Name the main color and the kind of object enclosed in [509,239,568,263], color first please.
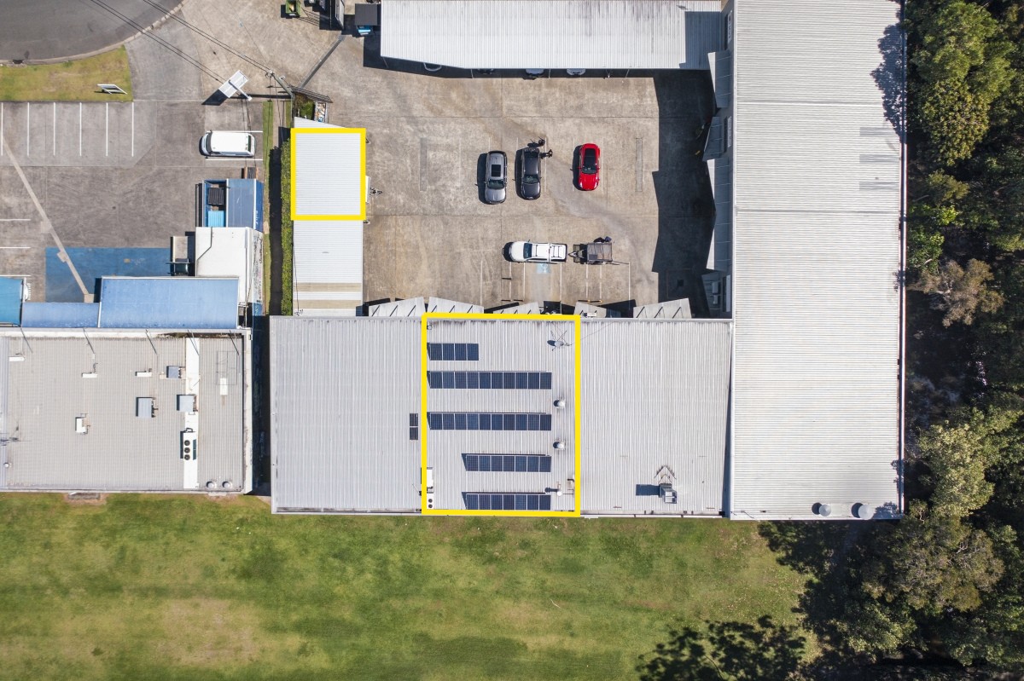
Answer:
white car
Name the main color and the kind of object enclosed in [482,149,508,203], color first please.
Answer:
gray car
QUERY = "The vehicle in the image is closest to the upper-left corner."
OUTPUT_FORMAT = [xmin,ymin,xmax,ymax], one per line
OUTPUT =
[198,129,254,155]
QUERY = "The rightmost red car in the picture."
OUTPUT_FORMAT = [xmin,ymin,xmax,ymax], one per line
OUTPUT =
[578,141,603,190]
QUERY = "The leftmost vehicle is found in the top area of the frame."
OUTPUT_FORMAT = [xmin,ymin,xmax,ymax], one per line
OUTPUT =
[162,231,191,277]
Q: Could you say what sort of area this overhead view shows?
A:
industrial area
